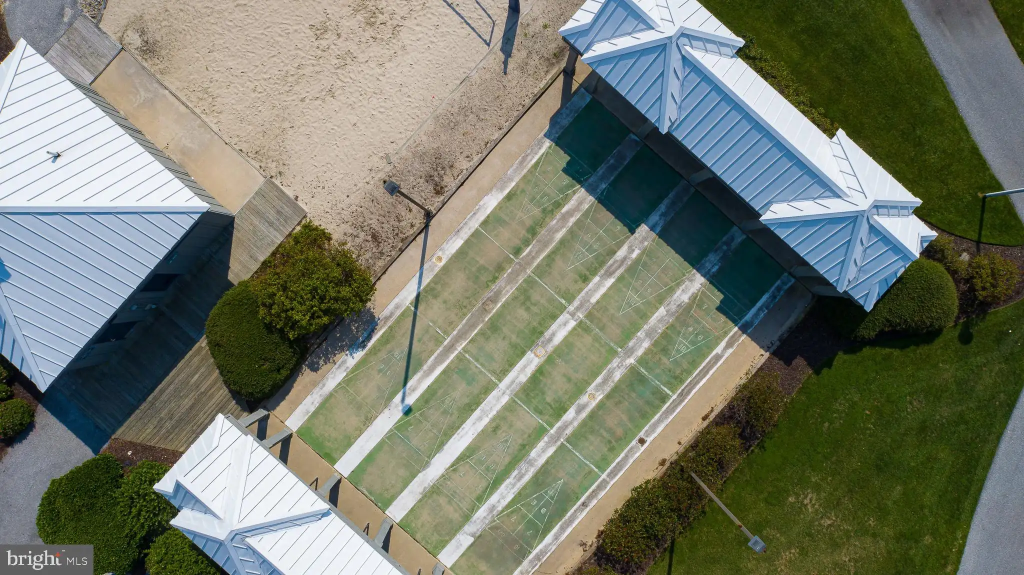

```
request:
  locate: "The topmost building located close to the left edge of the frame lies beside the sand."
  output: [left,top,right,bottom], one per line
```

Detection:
[0,40,232,391]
